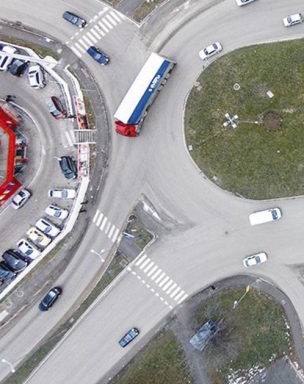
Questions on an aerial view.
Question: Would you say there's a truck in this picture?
Yes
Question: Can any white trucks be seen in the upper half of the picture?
Yes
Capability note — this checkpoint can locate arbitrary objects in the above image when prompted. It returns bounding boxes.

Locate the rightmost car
[282,14,304,27]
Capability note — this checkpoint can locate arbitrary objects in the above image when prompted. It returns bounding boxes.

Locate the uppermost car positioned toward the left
[62,10,88,28]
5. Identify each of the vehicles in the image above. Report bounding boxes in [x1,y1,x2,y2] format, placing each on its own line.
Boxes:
[199,41,223,58]
[49,95,68,120]
[113,52,173,134]
[41,286,62,310]
[251,207,281,224]
[45,204,70,220]
[28,227,51,246]
[17,238,41,257]
[236,0,258,6]
[10,188,33,210]
[62,10,88,28]
[36,218,60,237]
[0,262,17,282]
[2,250,29,271]
[282,14,304,27]
[11,55,29,80]
[50,188,75,200]
[189,320,217,351]
[88,46,110,64]
[29,64,46,88]
[59,154,78,180]
[119,327,140,346]
[243,251,268,267]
